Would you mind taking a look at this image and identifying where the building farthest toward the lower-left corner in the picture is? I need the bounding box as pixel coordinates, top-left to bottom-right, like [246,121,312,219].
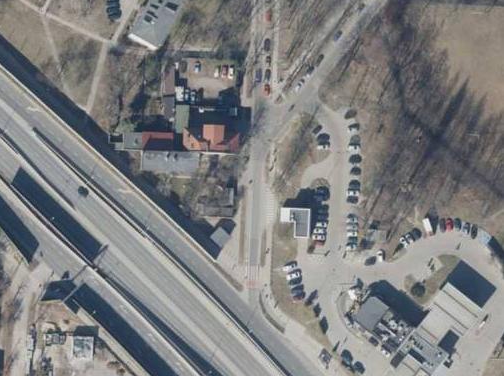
[73,337,93,359]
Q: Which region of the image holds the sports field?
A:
top right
